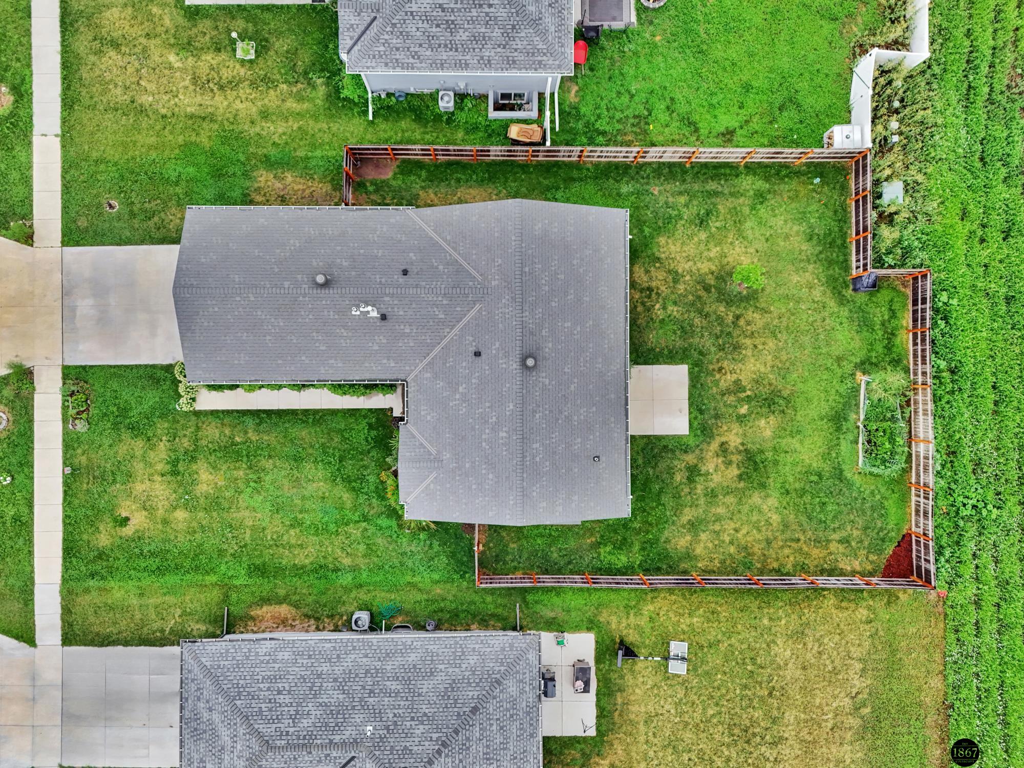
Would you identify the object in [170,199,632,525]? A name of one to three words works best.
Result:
house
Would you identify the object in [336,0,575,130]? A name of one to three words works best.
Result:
house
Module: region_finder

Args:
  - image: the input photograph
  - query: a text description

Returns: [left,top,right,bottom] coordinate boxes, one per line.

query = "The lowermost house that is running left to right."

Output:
[177,607,543,768]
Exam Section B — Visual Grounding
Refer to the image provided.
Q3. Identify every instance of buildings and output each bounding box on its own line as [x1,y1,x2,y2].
[177,607,543,768]
[170,199,632,525]
[336,0,575,130]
